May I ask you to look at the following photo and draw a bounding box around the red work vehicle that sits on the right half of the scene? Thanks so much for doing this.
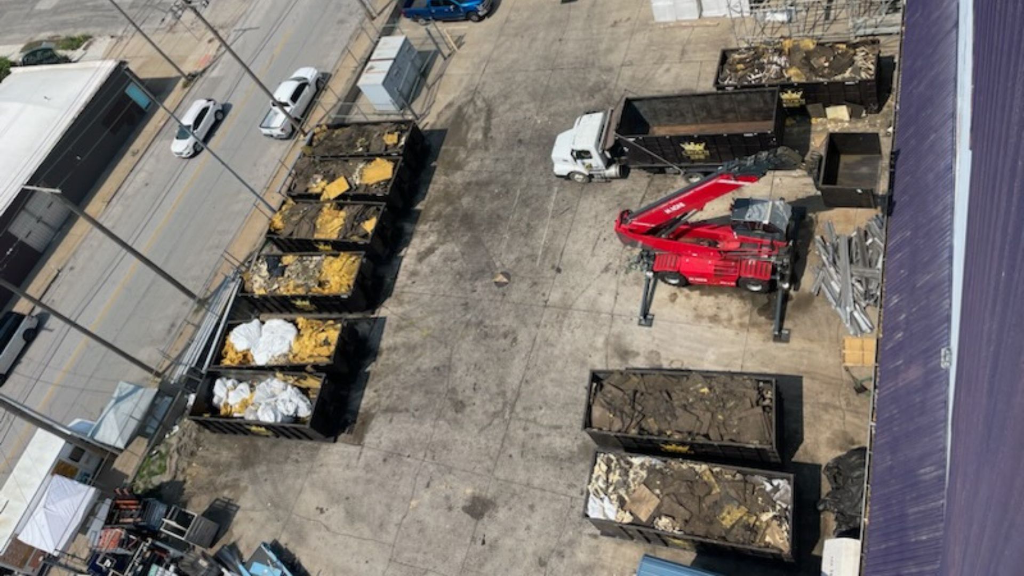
[608,146,804,344]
